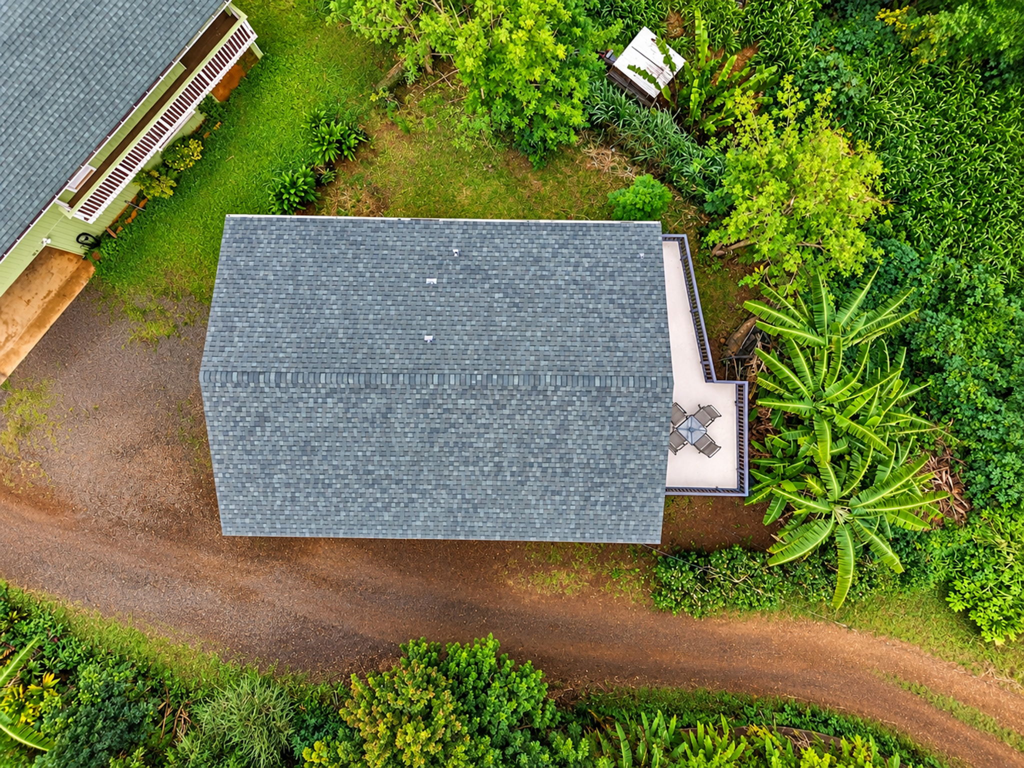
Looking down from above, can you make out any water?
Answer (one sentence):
No, there's no water in this view.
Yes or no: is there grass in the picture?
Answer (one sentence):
Yes, the picture does contain grass.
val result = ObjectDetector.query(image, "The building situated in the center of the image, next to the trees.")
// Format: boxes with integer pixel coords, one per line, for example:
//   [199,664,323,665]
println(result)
[199,213,751,544]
